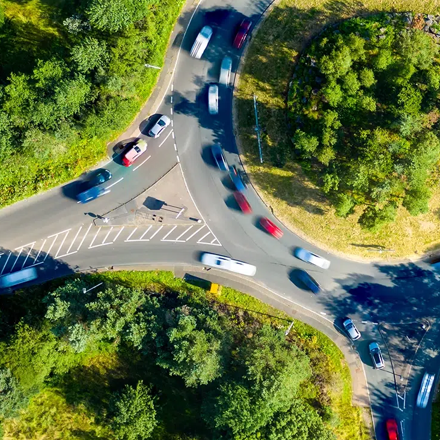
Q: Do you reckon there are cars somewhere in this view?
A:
Yes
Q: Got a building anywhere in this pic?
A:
No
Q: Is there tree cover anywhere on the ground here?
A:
Yes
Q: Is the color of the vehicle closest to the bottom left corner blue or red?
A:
blue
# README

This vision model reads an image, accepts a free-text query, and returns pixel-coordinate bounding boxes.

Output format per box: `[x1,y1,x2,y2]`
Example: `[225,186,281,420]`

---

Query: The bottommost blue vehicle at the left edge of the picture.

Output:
[1,267,38,289]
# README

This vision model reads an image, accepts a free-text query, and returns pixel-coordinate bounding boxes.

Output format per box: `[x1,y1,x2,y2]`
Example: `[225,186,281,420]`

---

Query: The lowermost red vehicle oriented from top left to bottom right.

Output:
[258,215,285,241]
